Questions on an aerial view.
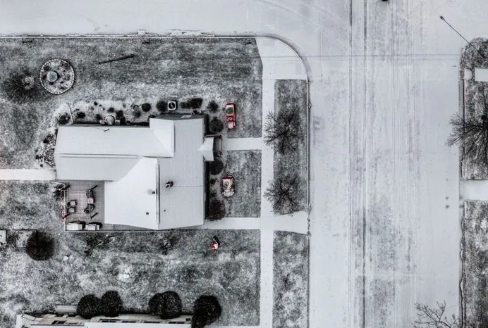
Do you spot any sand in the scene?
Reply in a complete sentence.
No, no sand is visible.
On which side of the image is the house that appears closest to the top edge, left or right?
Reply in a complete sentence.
The house that appears closest to the top edge appears in the left half of the scene.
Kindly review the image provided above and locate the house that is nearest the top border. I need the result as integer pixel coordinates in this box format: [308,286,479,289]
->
[50,116,221,237]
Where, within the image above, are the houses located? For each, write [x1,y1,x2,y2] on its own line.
[50,116,221,237]
[15,311,205,328]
